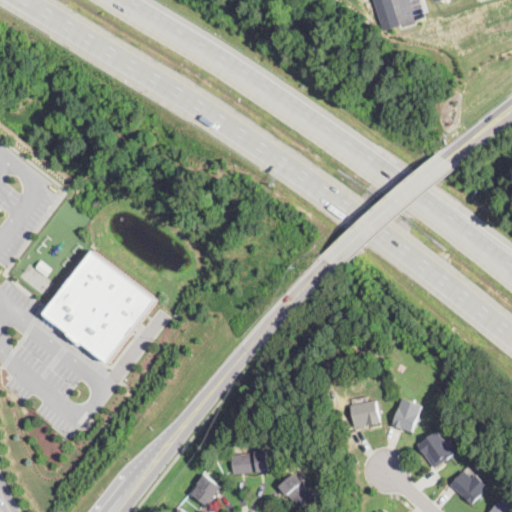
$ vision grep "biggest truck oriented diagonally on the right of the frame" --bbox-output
[322,199,350,221]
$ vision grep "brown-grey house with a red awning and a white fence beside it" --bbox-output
[190,476,220,512]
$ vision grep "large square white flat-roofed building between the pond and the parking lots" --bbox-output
[41,250,160,364]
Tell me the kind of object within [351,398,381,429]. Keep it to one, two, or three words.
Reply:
house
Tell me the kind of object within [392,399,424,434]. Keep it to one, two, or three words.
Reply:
house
